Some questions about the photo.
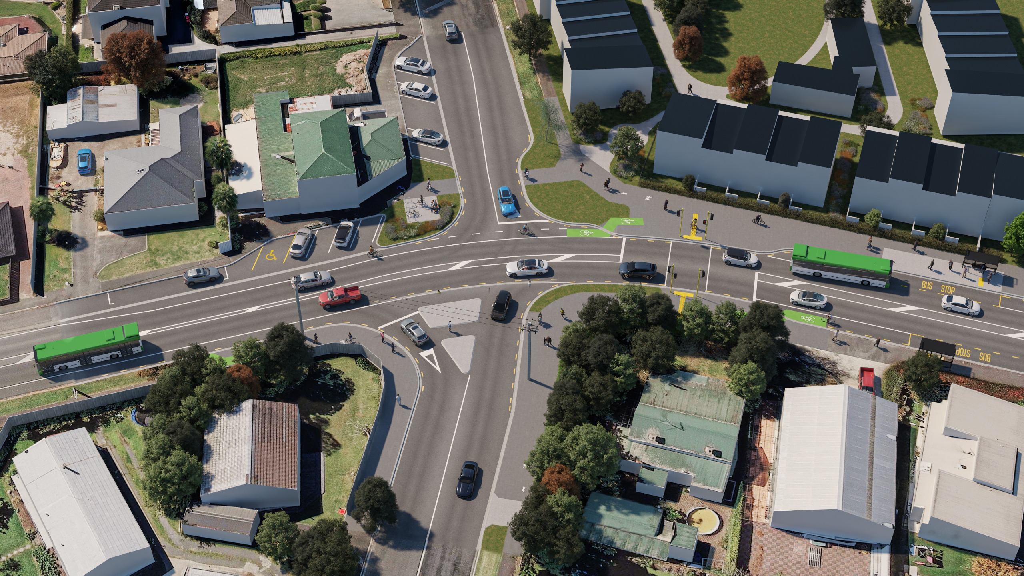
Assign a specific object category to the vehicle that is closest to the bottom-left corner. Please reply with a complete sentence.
The vehicle that is closest to the bottom-left corner in the image is a bus.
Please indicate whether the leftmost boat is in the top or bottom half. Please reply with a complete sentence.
The top half of the photo is where the leftmost boat is.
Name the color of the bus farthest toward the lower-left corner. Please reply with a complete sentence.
The color of the bus farthest toward the lower-left corner is green.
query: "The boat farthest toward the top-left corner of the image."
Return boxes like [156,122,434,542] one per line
[47,137,68,170]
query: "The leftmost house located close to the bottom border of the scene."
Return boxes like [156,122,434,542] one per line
[11,426,154,576]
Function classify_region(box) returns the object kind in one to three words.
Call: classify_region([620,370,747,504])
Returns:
building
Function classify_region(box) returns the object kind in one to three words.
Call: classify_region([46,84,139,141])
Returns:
shed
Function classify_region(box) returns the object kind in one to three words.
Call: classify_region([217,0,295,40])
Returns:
house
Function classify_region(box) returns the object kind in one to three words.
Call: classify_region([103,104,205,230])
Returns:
house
